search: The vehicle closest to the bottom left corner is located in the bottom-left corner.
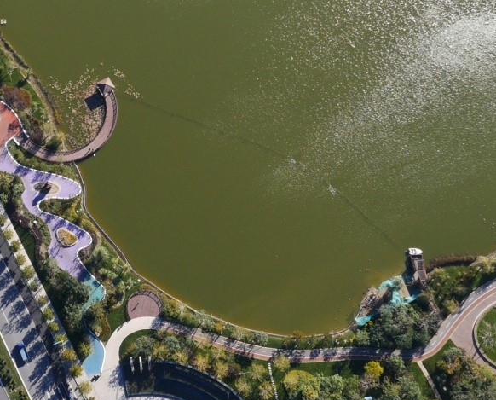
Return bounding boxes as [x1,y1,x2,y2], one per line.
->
[16,342,28,361]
